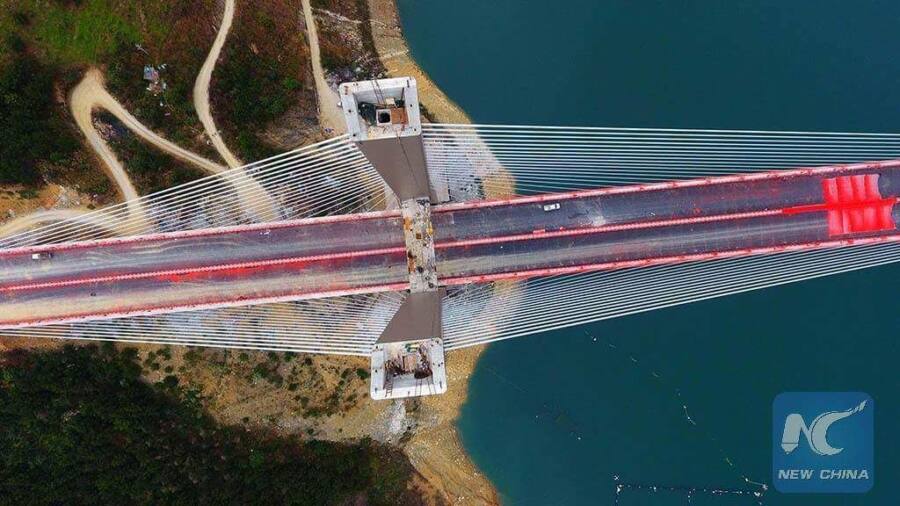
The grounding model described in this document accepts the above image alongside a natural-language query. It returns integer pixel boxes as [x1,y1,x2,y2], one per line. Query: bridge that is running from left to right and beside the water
[0,80,900,401]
